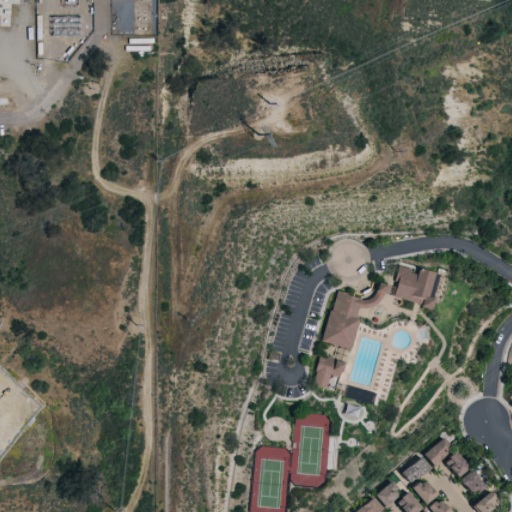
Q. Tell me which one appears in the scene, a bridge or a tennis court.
tennis court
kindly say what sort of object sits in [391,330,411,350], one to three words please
swimming pool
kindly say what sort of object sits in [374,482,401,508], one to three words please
house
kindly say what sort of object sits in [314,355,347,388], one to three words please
building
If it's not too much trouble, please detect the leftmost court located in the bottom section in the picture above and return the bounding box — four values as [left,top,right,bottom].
[250,446,292,512]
